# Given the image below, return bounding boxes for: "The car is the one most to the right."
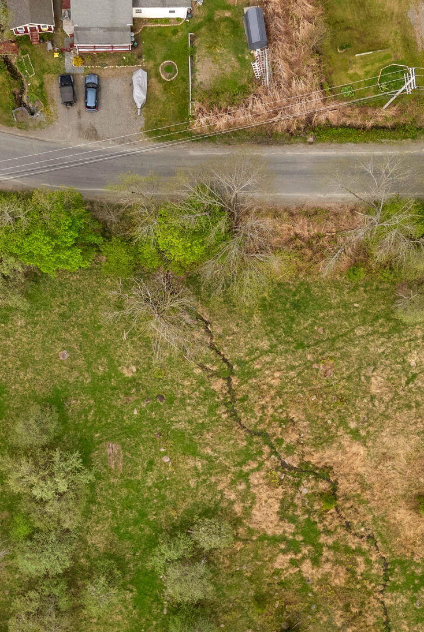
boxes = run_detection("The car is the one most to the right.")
[82,73,99,111]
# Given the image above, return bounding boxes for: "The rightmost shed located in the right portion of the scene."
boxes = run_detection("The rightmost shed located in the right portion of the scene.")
[244,1,270,49]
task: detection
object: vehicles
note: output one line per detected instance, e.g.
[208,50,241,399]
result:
[58,73,76,109]
[82,73,99,111]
